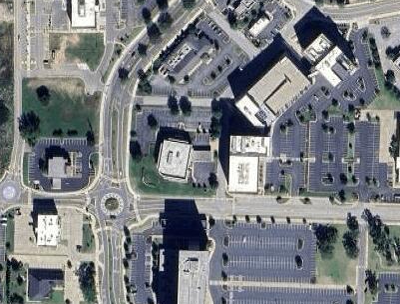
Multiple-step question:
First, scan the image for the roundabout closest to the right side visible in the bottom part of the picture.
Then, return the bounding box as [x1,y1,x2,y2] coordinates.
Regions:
[93,184,132,224]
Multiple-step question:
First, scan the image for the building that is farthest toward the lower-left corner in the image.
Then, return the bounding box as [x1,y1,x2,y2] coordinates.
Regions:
[27,269,63,300]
